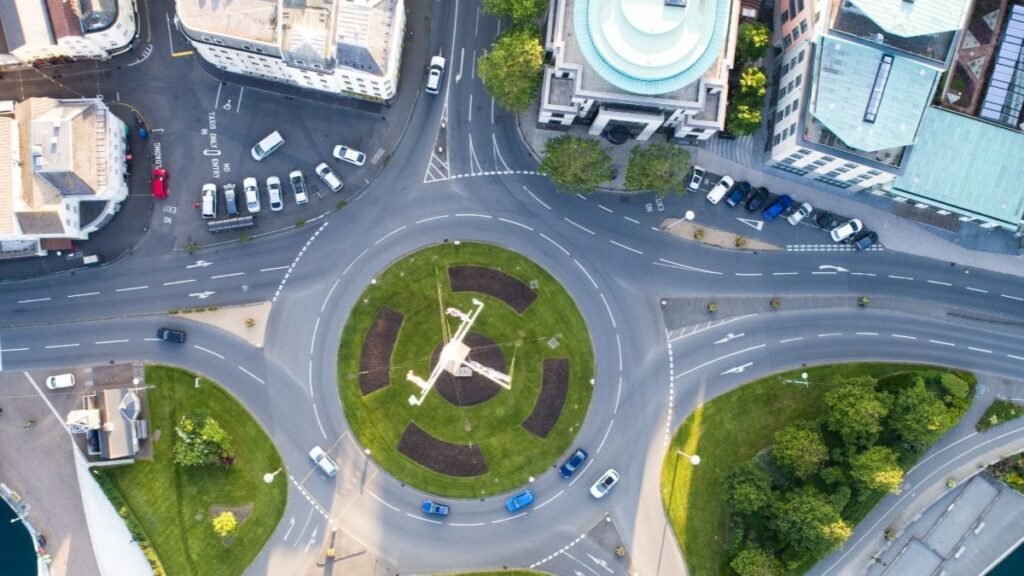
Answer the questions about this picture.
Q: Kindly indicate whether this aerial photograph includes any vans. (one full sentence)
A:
Yes, a van is visible in the scene.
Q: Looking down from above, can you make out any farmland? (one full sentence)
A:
No, farmland can't be seen anywhere here.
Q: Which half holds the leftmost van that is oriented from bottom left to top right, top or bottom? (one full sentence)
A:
It is in the top half that the leftmost van that is oriented from bottom left to top right appears.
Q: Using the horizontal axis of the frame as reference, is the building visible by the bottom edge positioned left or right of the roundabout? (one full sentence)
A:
Relative to the roundabout, the building visible by the bottom edge is on the right.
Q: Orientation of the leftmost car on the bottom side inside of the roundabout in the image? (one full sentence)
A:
What the image shows is the leftmost car on the bottom side inside of the roundabout lying diagonally.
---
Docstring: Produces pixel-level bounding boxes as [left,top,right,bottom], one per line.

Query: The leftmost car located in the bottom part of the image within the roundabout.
[307,445,339,479]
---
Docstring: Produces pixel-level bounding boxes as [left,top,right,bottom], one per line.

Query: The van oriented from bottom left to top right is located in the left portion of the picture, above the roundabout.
[248,128,286,161]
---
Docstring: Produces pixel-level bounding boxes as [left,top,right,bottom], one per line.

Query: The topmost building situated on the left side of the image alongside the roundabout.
[172,0,411,105]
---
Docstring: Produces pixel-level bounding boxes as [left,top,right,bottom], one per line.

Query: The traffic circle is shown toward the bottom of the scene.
[273,178,660,567]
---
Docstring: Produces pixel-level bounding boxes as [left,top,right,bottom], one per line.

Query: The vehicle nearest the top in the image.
[425,56,444,91]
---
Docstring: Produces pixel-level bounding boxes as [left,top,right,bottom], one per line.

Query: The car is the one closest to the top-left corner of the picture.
[149,166,167,198]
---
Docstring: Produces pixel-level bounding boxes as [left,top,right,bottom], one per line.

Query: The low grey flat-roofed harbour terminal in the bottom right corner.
[831,464,1024,576]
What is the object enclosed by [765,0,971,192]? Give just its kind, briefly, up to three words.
building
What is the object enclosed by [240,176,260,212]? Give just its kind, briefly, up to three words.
car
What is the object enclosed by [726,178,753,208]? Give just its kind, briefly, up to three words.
car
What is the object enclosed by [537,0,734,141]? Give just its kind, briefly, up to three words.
building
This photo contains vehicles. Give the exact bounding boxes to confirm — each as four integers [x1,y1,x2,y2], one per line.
[287,170,308,204]
[589,468,622,501]
[425,56,444,91]
[763,194,794,220]
[813,207,840,231]
[263,176,282,211]
[559,448,588,480]
[312,161,344,193]
[706,173,736,204]
[854,229,881,252]
[219,183,239,214]
[197,182,216,218]
[330,143,366,166]
[248,128,286,161]
[149,166,167,198]
[832,217,865,244]
[420,501,449,517]
[726,178,753,208]
[503,490,536,513]
[689,165,707,193]
[240,176,260,212]
[153,326,187,344]
[307,445,339,479]
[745,184,773,214]
[788,201,814,226]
